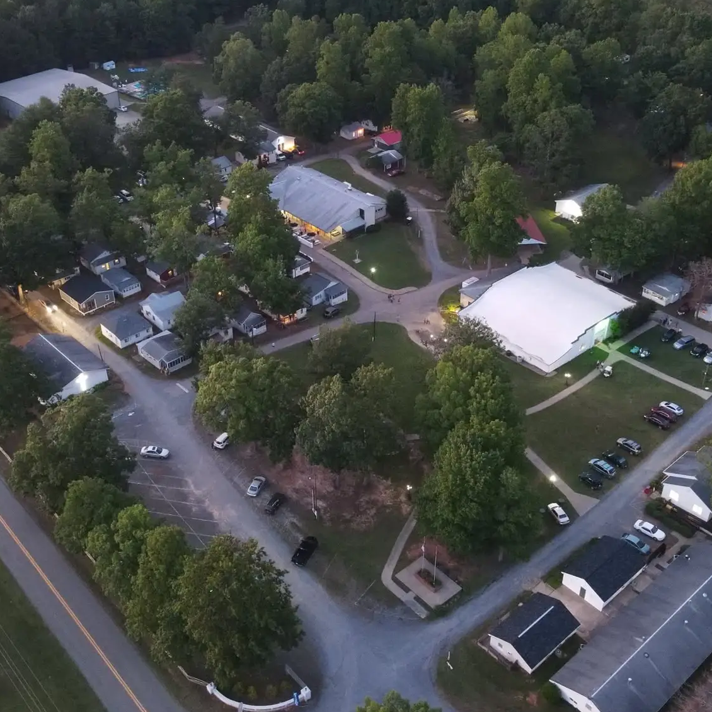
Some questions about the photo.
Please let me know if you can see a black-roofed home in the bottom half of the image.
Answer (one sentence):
Yes, a black-roofed home shows up in the bottom half of the image.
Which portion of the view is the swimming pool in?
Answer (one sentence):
The swimming pool is in the top left part of the image.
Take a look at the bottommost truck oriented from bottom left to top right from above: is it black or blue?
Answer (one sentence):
The bottommost truck oriented from bottom left to top right looks black in the image.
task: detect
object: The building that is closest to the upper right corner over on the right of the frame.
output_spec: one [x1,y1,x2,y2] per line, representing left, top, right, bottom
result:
[554,181,605,223]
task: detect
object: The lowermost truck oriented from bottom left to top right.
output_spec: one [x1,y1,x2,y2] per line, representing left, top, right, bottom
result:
[289,533,321,569]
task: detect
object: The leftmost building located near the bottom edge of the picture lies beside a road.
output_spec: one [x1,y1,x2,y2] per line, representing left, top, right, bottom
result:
[479,592,576,686]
